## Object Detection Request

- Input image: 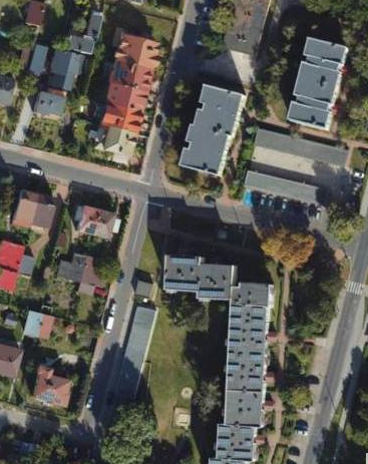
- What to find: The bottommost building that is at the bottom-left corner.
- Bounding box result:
[34,370,73,408]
